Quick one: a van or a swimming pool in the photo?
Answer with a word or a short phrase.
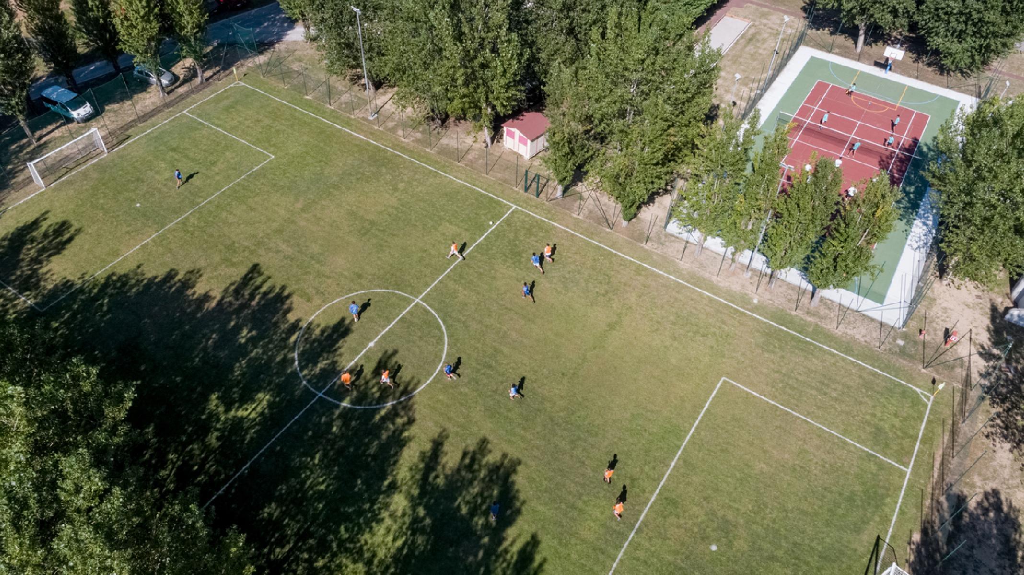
van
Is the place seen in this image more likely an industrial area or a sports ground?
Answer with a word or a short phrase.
sports ground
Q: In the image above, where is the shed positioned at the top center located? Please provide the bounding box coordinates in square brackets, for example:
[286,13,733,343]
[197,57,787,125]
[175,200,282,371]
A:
[501,113,549,158]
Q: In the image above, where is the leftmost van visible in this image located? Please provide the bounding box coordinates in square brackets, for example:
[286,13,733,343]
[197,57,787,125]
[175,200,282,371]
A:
[38,81,90,120]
